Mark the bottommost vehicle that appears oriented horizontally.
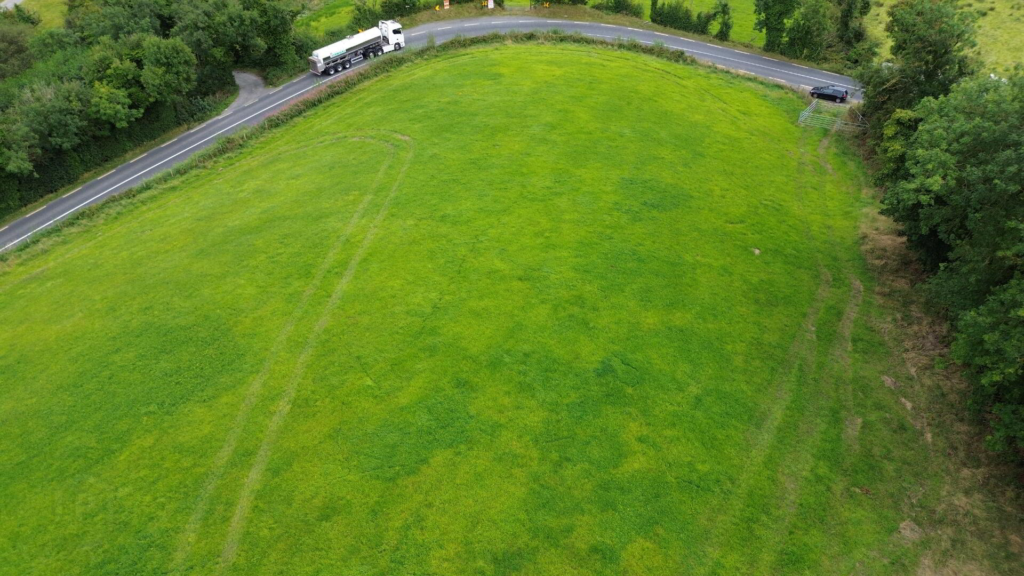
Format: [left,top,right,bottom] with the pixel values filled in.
[811,85,850,103]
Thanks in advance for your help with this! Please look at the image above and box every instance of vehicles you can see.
[811,85,850,103]
[307,16,405,76]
